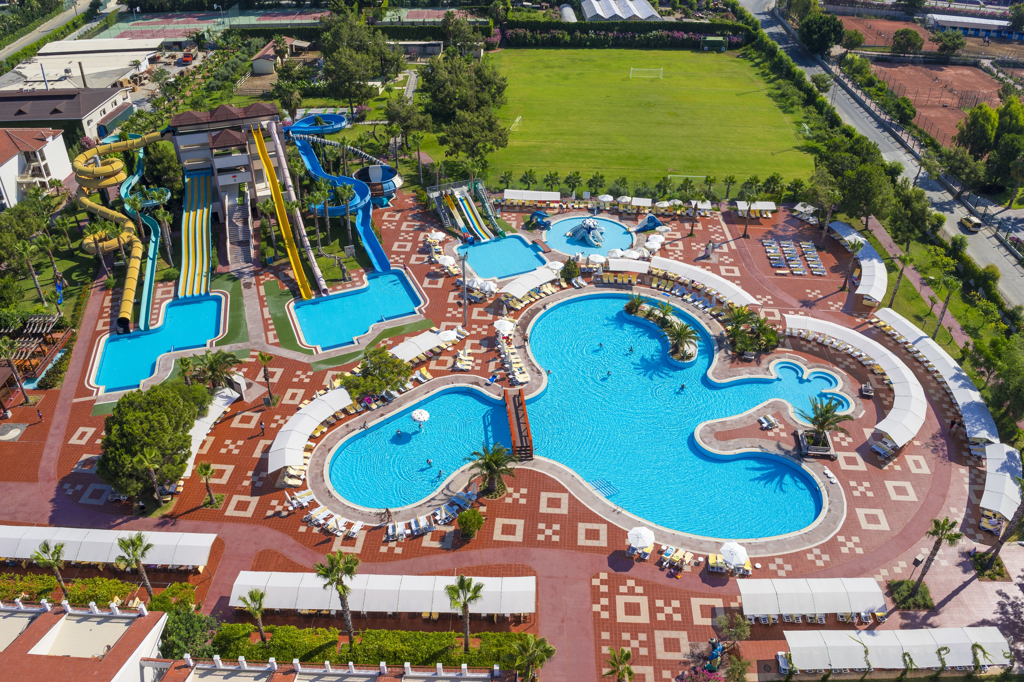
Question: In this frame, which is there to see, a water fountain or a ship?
water fountain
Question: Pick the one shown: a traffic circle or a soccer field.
soccer field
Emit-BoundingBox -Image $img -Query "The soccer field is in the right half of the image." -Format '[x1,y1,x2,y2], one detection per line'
[488,48,827,204]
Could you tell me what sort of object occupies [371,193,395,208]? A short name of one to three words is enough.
swimming pool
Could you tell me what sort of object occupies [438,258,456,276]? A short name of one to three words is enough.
umbrella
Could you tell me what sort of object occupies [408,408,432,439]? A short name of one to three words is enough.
fountain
